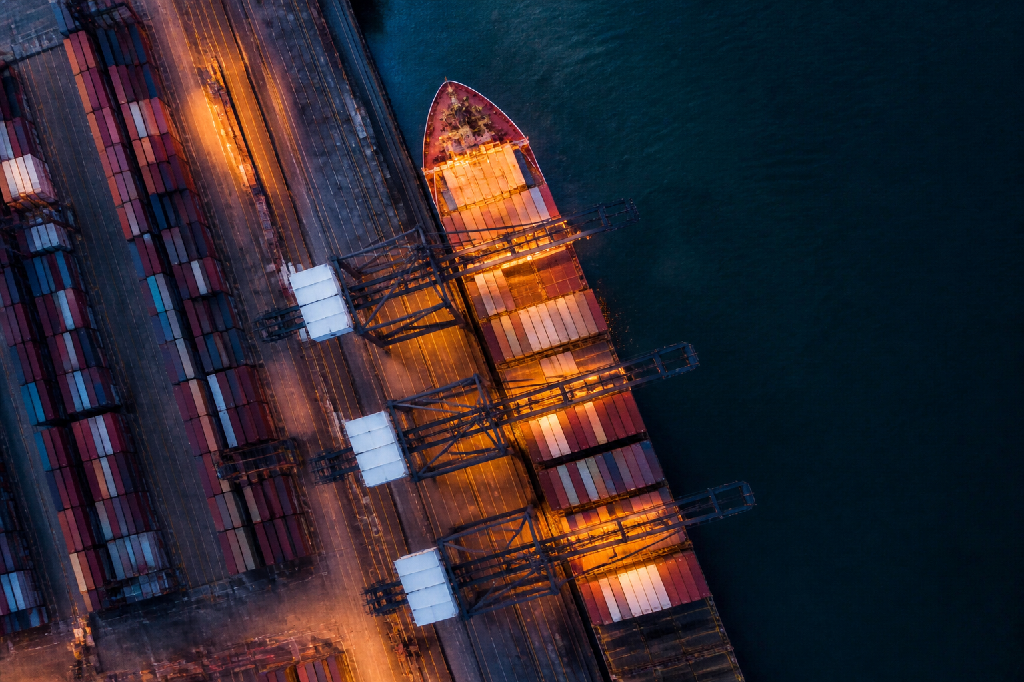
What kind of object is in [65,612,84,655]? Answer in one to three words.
vehicle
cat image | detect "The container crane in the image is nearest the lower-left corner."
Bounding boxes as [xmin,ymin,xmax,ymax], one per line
[90,556,202,612]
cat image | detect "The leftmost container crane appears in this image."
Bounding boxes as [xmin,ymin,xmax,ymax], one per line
[0,196,99,253]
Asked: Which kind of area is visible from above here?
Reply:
port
